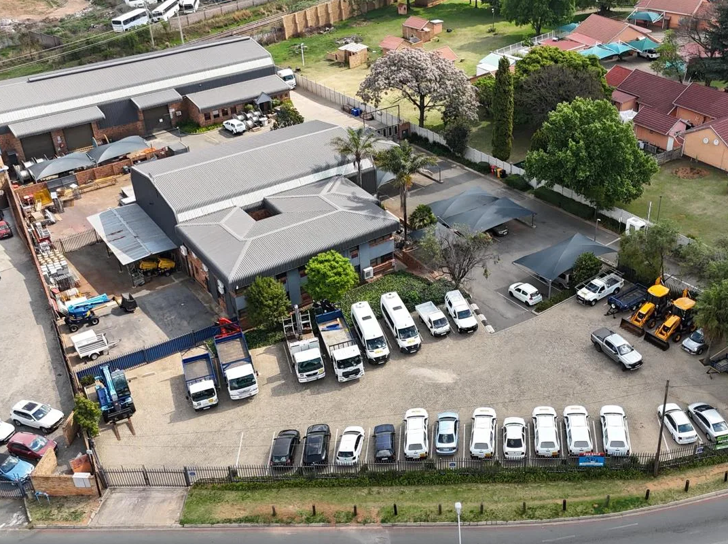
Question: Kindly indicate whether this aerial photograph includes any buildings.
Yes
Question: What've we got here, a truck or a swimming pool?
truck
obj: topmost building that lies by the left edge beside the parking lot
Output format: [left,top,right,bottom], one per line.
[0,36,291,165]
